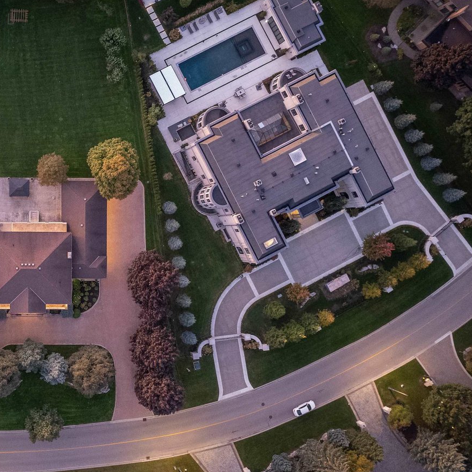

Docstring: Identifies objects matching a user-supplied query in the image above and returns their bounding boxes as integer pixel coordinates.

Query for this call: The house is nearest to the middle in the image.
[174,64,394,264]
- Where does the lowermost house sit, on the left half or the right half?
left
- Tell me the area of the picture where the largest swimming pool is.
top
